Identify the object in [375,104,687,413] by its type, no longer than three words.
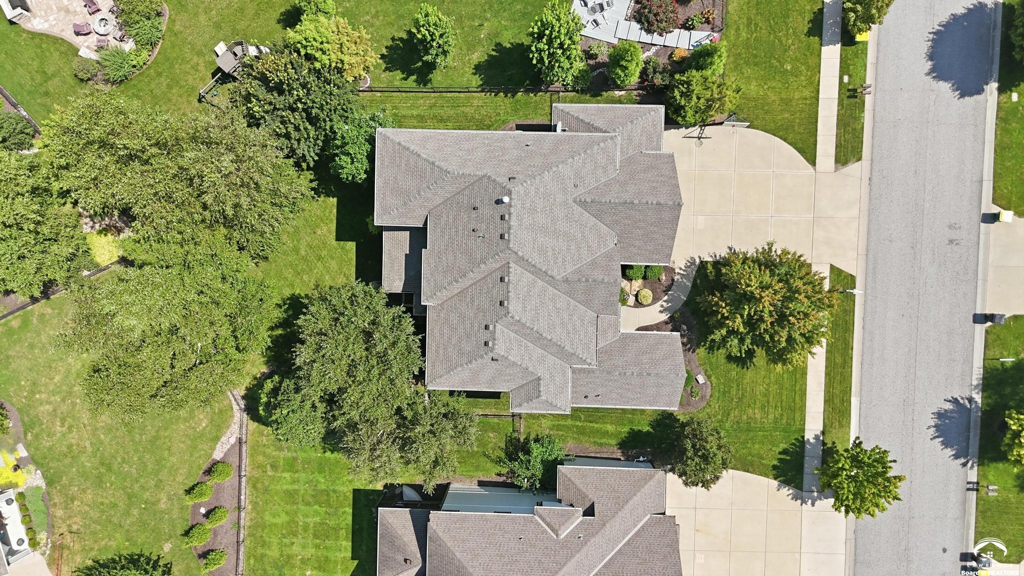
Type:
house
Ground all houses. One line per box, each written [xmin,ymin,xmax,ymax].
[375,104,687,413]
[377,454,684,576]
[0,535,11,576]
